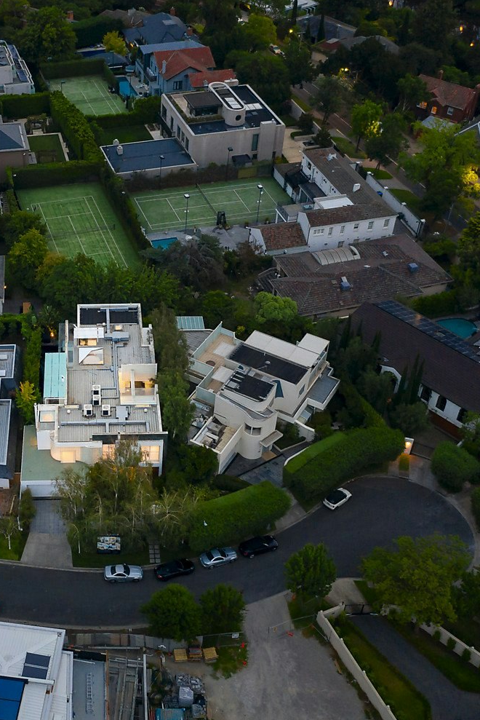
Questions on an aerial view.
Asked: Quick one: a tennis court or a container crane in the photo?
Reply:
tennis court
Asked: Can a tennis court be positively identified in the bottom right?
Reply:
No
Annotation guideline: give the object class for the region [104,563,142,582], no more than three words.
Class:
car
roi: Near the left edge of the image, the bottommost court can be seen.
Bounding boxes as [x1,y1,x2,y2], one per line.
[22,189,140,278]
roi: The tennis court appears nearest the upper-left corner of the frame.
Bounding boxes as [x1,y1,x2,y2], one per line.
[52,80,123,117]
